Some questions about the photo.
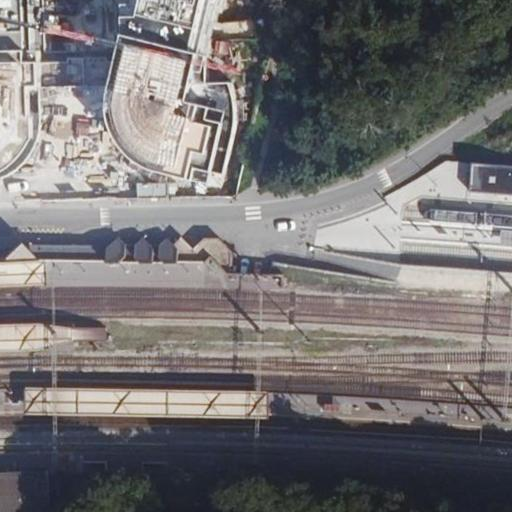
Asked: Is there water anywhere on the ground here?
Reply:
No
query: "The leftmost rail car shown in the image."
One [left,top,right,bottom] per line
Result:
[420,208,477,222]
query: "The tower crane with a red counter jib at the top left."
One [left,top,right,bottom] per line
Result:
[0,5,110,39]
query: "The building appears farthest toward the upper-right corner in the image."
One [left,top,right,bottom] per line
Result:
[458,160,512,192]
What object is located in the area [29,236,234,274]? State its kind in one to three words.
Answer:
building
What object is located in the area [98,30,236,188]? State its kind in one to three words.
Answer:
building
